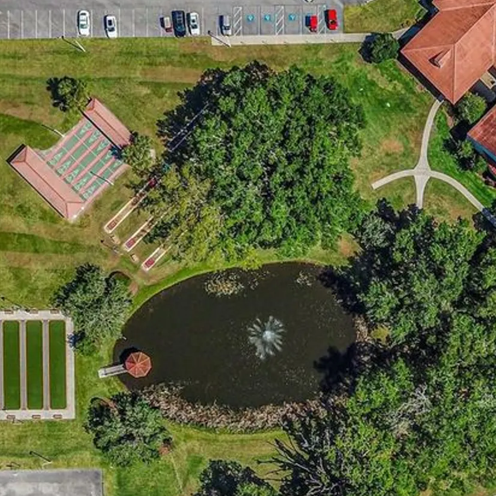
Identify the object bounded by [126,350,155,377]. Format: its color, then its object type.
red gazebo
